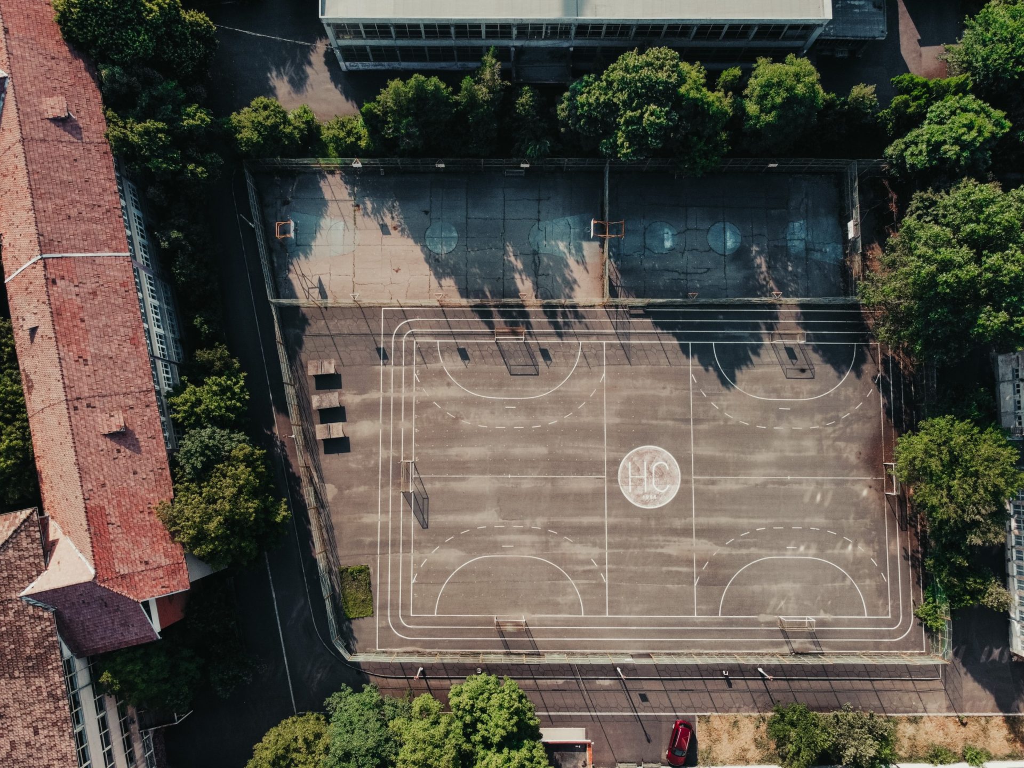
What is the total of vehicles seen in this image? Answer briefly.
1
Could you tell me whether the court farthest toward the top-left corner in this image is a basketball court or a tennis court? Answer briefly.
basketball court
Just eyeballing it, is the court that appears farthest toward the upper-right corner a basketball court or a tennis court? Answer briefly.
basketball court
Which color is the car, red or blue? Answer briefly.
red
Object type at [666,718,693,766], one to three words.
car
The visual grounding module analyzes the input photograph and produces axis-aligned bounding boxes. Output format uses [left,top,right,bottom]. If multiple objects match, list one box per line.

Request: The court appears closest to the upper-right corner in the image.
[603,175,840,301]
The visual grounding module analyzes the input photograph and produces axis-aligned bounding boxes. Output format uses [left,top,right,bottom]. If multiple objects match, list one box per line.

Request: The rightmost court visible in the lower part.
[690,342,890,618]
